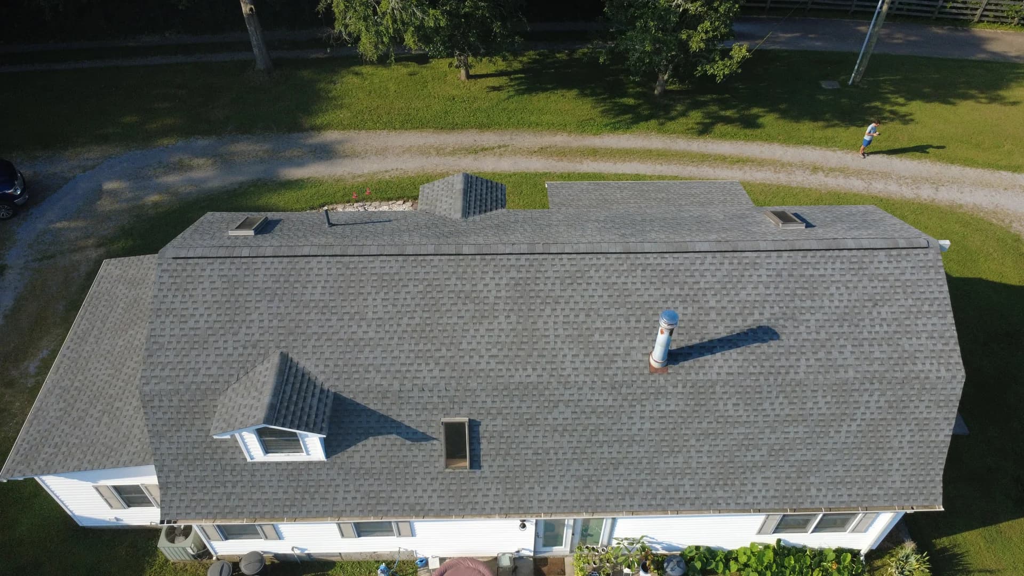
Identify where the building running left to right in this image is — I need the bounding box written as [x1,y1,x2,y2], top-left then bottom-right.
[0,168,966,567]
